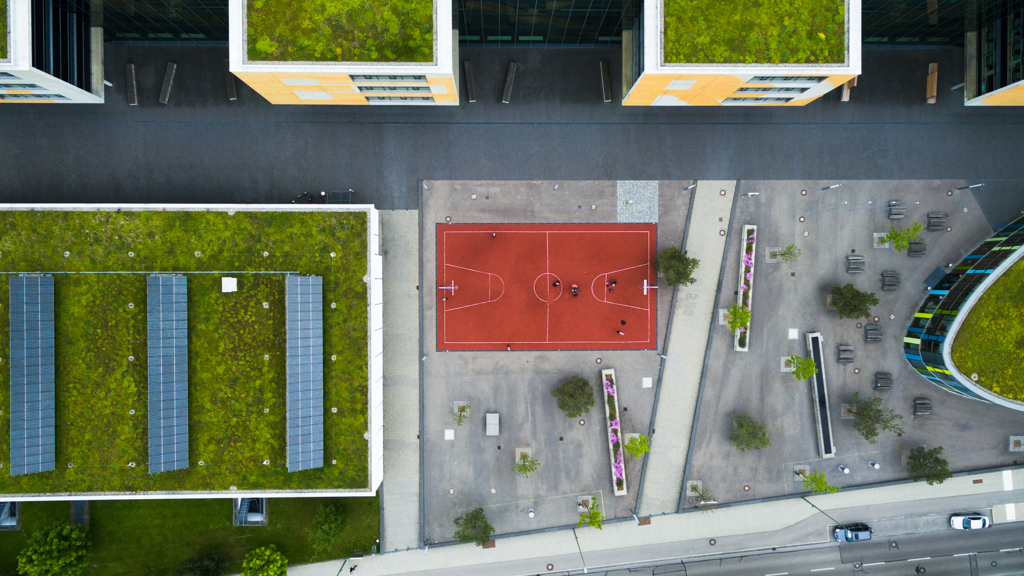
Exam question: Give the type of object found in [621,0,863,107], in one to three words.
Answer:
building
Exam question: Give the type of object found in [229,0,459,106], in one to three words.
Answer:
building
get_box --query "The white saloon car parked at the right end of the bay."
[950,511,988,531]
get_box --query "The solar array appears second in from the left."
[147,276,189,473]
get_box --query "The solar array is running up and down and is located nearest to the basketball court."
[286,276,323,472]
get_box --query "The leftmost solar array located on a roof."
[9,276,56,475]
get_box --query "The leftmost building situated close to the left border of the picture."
[0,0,105,104]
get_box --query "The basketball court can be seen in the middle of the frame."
[436,223,658,351]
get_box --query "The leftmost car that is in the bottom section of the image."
[833,522,873,542]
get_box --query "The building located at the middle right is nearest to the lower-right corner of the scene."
[903,216,1024,417]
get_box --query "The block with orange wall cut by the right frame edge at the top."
[964,10,1024,107]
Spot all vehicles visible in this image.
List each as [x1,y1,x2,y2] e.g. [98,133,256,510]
[950,511,988,531]
[833,522,873,542]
